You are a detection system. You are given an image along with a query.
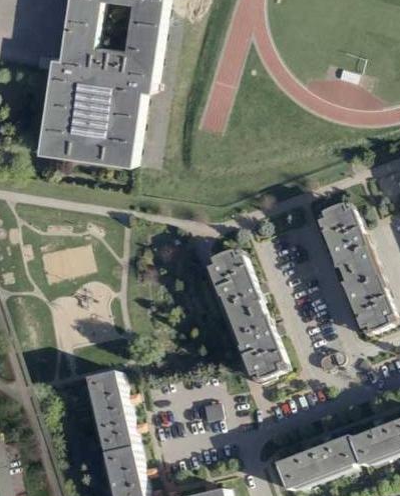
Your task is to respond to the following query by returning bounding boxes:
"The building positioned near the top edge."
[37,0,173,174]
